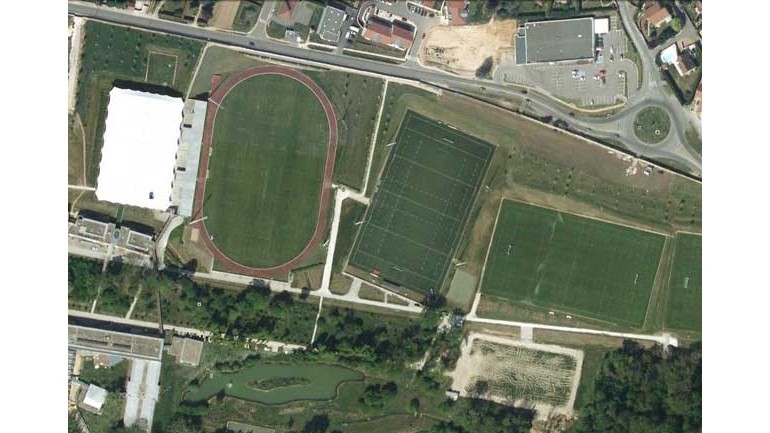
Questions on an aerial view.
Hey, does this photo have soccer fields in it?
Yes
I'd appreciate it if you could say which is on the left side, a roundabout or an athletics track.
athletics track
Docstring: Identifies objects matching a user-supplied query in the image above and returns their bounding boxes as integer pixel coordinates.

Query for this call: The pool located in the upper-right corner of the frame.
[661,44,678,63]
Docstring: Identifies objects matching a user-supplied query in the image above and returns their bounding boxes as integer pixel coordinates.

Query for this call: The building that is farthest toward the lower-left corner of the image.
[78,383,107,416]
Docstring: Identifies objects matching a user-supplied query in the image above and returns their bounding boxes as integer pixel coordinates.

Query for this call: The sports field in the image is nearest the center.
[346,108,497,301]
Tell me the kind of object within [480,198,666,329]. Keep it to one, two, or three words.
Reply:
soccer field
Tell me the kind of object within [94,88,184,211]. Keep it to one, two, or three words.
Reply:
building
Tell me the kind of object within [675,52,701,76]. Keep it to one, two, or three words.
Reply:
house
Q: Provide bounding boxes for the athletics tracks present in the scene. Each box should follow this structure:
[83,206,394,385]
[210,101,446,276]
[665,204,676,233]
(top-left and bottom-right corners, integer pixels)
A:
[183,65,337,277]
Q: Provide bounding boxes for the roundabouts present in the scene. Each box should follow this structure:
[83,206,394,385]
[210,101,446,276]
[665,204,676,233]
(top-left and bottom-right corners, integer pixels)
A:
[623,95,682,155]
